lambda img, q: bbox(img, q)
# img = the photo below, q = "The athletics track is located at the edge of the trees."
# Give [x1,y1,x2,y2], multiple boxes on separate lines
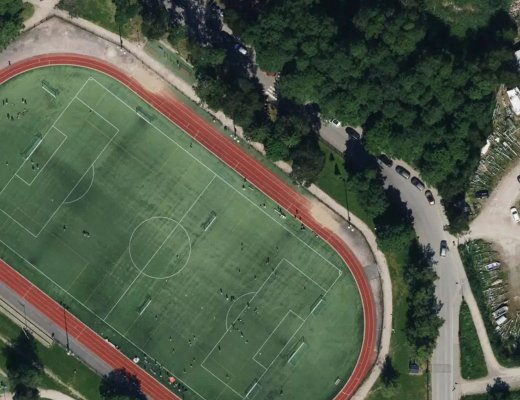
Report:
[0,52,378,400]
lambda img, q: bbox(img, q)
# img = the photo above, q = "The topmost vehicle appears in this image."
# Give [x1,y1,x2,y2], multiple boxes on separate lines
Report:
[233,42,249,56]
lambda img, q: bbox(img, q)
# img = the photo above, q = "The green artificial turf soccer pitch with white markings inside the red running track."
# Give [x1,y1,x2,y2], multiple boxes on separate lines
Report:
[0,66,364,400]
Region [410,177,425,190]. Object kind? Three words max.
vehicle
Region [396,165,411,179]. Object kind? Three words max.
vehicle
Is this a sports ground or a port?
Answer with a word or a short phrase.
sports ground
